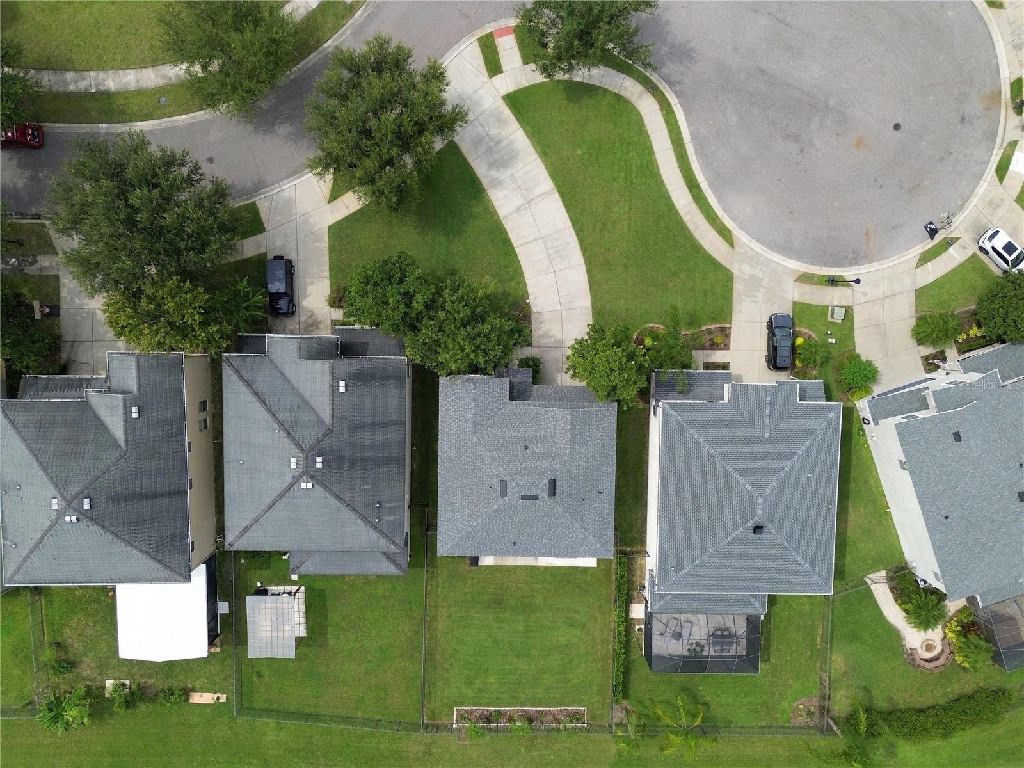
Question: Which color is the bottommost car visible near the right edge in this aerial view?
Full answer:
From above, the bottommost car visible near the right edge appears white.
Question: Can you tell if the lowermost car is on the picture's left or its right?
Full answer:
You can find the lowermost car on the right side of the picture.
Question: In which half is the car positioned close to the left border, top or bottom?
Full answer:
You can find the car positioned close to the left border in the top half.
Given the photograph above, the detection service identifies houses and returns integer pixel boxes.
[437,368,615,558]
[220,326,413,575]
[646,369,841,615]
[0,350,217,587]
[856,341,1024,608]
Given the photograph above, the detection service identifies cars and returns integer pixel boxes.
[978,225,1024,281]
[764,313,797,369]
[266,254,299,315]
[0,121,45,154]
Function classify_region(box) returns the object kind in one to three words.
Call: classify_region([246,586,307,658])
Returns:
gazebo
